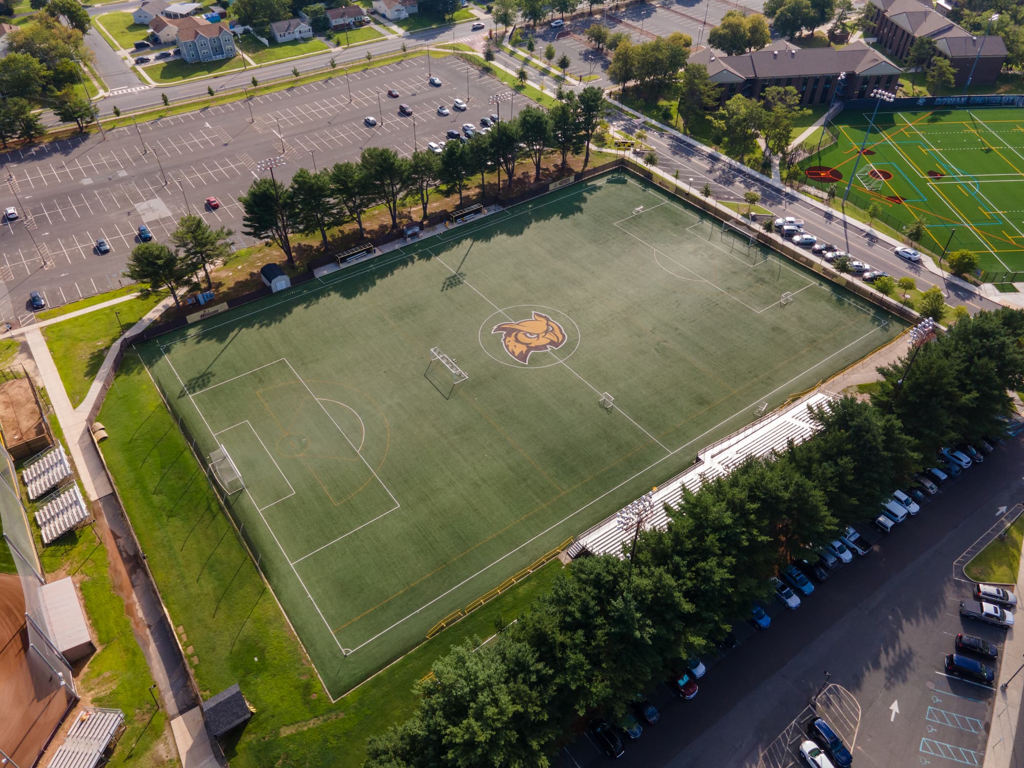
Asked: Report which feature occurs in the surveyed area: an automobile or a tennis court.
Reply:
automobile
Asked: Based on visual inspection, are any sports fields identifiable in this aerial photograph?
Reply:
Yes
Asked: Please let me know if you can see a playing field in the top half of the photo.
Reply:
Yes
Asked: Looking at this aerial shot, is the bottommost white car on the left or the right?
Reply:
right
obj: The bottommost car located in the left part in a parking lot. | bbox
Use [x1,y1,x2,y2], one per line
[29,292,45,309]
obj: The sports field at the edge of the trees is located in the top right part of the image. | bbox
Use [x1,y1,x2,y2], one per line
[787,105,1024,283]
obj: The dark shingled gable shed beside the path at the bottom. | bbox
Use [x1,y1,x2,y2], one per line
[201,683,259,749]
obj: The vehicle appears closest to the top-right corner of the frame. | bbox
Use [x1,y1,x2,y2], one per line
[894,248,921,261]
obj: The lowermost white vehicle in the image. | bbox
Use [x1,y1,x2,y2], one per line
[797,738,832,768]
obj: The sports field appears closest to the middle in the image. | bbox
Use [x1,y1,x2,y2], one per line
[134,167,914,703]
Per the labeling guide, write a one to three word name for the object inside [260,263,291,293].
shed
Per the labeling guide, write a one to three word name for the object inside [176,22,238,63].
house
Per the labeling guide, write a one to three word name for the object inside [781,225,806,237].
vehicle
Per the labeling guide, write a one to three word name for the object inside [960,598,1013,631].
truck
